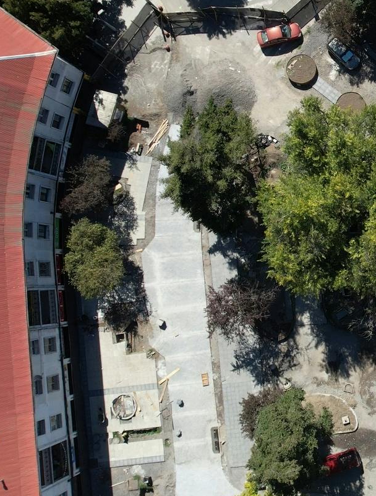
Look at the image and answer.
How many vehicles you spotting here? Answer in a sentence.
The photo contains 3 vehicles.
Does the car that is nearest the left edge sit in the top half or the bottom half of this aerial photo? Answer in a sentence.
You can find the car that is nearest the left edge in the top half.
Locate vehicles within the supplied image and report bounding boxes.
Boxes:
[255,21,302,46]
[324,34,362,68]
[314,448,368,480]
